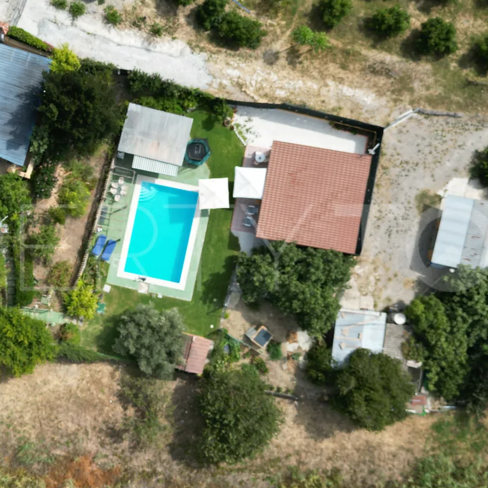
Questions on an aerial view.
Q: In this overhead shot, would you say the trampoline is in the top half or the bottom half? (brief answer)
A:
top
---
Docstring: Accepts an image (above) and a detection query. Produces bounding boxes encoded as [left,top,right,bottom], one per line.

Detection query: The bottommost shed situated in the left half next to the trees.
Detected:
[173,334,212,375]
